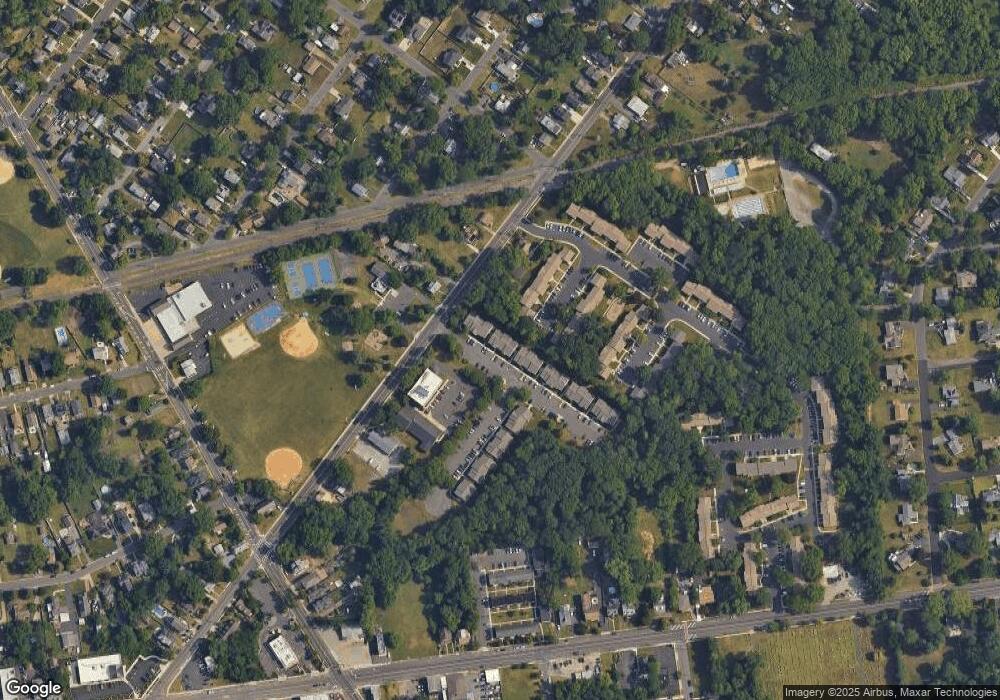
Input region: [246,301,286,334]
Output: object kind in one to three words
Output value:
sports court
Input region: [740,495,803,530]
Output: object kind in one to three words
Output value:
building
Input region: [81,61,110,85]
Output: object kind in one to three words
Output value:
house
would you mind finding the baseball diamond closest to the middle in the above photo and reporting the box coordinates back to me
[279,312,320,359]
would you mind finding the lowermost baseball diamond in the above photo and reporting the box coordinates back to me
[266,446,303,495]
